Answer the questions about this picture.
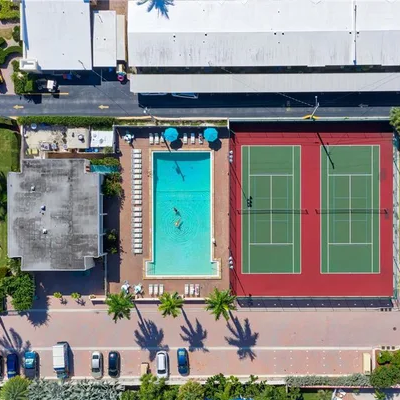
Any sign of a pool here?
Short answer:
Yes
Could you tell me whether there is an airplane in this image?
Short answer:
No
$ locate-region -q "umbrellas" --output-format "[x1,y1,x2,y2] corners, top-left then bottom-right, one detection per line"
[164,127,179,142]
[204,127,219,142]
